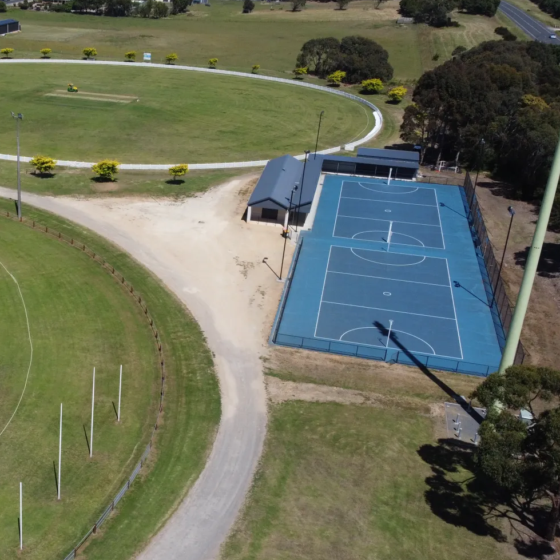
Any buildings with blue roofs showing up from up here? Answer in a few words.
Yes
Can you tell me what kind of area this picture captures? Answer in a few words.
sports ground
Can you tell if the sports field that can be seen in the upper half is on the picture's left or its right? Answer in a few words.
left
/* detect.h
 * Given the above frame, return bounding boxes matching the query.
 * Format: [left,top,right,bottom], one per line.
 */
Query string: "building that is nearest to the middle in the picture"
[247,153,324,226]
